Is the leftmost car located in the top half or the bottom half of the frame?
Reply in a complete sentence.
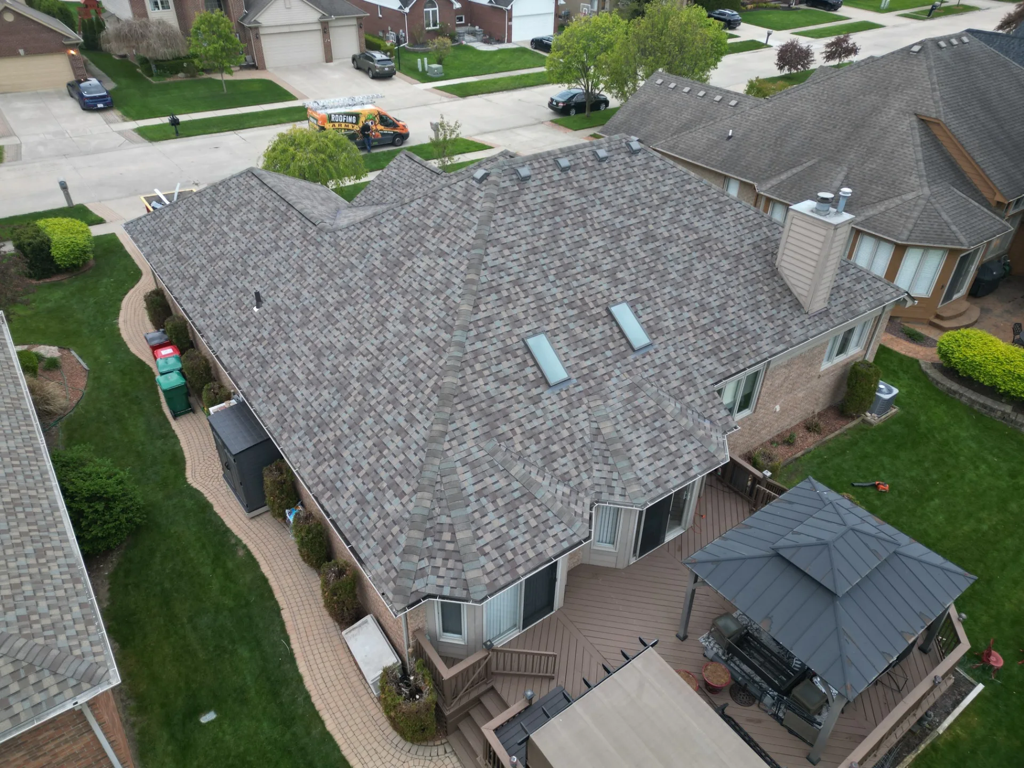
Seen from above, the leftmost car lies in the top half of the view.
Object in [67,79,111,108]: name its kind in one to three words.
car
